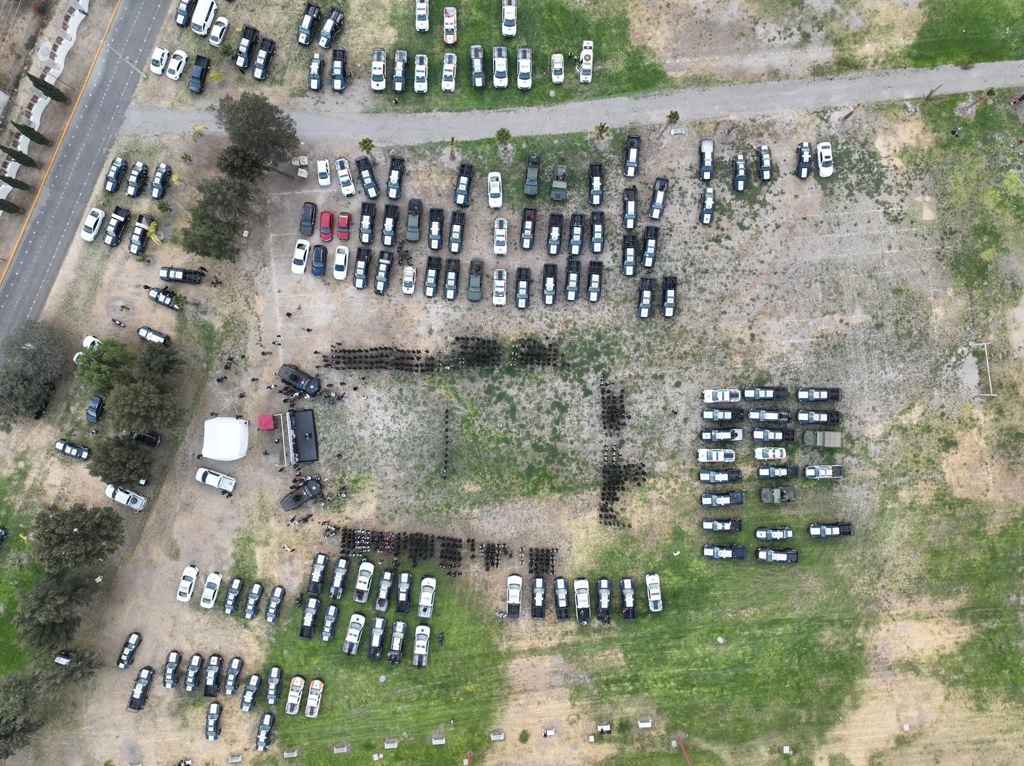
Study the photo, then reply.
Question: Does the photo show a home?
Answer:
No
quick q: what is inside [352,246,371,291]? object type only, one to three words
vehicle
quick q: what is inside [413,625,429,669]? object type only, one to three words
vehicle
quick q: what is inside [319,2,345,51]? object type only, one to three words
truck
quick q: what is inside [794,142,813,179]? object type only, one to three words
car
